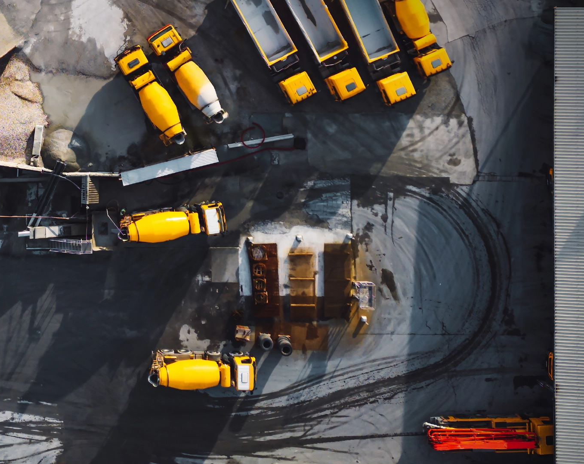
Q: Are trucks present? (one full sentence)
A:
Yes, I can see a truck in this picture.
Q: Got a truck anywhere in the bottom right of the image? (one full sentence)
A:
Yes, looking in the bottom right of the image, one can make out a truck.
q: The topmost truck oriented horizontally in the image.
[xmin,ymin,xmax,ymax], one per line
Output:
[116,199,229,241]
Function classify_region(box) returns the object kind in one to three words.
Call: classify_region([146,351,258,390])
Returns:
truck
